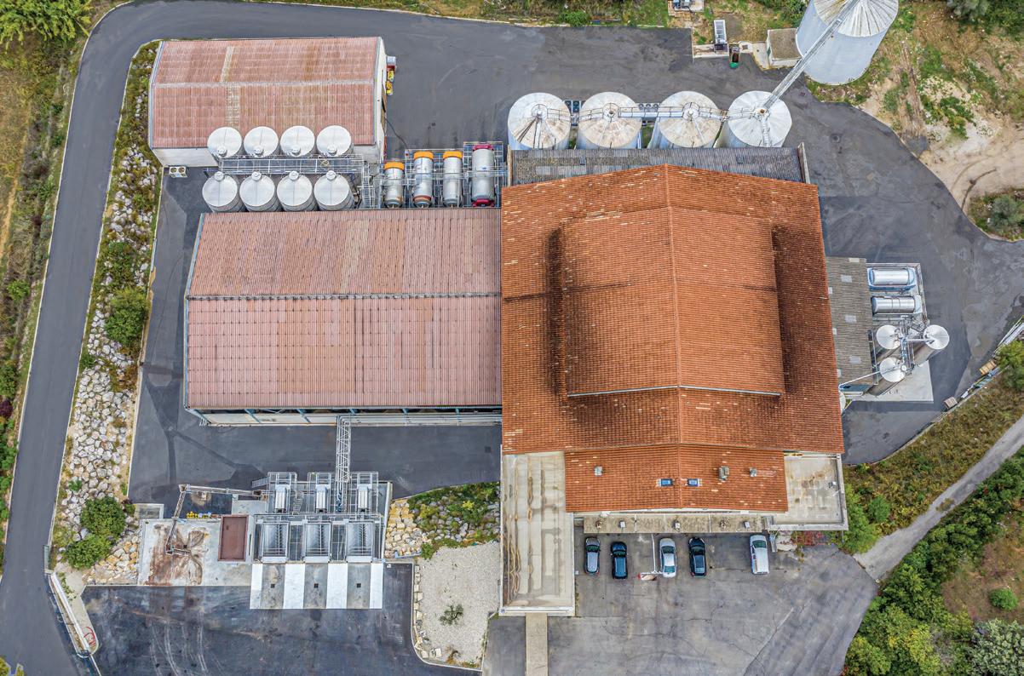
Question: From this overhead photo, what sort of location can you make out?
industrial area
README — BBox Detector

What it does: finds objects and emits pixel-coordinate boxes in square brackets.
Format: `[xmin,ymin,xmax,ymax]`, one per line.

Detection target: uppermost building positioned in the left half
[149,37,386,165]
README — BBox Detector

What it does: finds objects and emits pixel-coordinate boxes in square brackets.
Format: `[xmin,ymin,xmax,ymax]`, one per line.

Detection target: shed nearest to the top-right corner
[766,29,805,68]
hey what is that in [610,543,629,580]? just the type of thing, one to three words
car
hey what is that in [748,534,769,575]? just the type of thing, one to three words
vehicle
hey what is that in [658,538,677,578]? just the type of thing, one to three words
car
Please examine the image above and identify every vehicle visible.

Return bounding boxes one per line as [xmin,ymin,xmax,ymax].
[748,534,769,575]
[610,543,629,580]
[688,537,707,577]
[658,538,677,578]
[583,538,601,575]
